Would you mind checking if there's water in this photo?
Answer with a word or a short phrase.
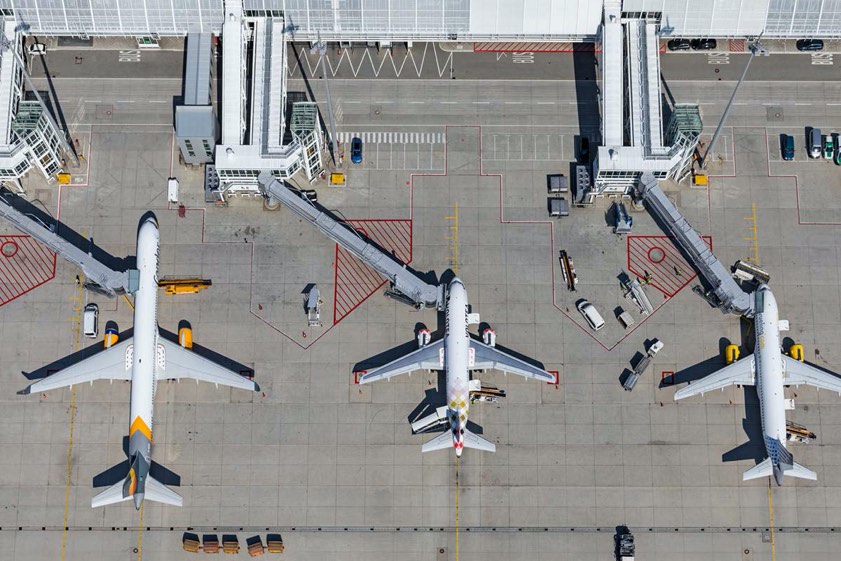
No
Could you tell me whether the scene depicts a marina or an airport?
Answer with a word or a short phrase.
airport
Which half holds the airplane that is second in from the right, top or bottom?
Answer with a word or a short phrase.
bottom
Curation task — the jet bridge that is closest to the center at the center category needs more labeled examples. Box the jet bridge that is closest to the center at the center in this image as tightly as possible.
[258,173,448,312]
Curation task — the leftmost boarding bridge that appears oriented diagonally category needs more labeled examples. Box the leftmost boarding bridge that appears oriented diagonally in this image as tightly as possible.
[0,194,141,299]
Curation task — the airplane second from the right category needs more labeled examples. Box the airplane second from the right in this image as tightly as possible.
[361,278,556,458]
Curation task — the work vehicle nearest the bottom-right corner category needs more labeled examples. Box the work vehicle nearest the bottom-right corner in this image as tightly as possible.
[785,425,816,442]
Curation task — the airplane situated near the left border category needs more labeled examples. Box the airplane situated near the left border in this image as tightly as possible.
[18,216,256,512]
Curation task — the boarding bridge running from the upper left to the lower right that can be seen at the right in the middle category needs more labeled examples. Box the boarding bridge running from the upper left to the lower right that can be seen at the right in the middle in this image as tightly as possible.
[632,173,767,317]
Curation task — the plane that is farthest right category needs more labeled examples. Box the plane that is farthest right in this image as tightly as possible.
[673,283,841,488]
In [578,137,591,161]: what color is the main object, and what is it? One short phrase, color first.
black vehicle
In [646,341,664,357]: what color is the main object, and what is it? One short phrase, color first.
white work vehicle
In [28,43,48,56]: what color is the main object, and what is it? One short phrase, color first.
white vehicle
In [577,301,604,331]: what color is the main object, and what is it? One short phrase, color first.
white vehicle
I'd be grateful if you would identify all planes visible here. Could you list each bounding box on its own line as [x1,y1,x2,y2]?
[673,283,841,488]
[18,216,256,512]
[361,278,556,458]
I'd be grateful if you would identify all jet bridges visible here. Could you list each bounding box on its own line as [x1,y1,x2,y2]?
[632,173,767,317]
[0,194,141,299]
[258,173,448,312]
